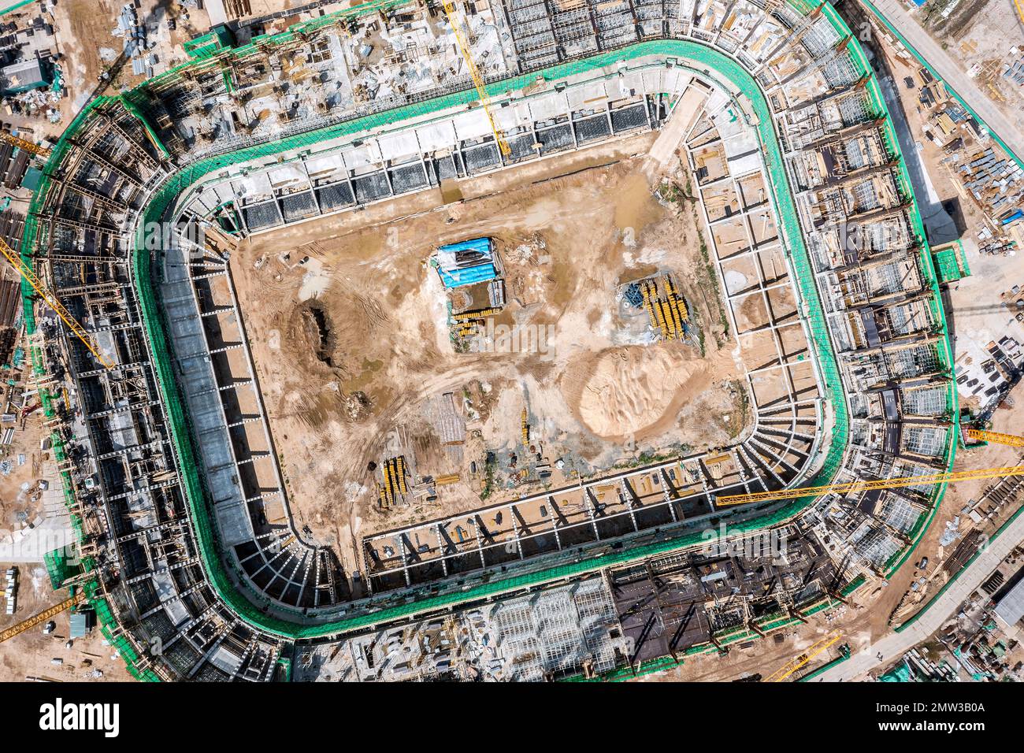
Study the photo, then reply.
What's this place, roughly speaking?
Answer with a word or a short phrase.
sports ground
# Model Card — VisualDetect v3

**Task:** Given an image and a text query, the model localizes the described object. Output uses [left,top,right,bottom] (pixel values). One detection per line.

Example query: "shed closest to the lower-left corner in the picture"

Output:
[68,612,92,639]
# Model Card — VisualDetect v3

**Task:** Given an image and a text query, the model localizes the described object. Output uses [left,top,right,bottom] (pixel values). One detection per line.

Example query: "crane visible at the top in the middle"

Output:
[442,0,510,156]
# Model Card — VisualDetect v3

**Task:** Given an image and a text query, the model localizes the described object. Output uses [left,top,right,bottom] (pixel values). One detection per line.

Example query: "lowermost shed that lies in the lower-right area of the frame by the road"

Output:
[986,568,1024,626]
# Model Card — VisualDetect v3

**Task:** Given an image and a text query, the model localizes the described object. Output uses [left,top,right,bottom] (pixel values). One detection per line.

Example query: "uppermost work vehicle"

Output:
[1001,336,1024,356]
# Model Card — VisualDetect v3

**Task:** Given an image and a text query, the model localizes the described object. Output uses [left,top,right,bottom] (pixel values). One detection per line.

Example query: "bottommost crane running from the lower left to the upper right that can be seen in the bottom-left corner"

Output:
[0,584,94,655]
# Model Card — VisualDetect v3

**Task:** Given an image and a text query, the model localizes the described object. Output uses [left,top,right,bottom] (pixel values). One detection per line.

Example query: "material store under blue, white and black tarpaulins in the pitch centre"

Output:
[439,239,505,288]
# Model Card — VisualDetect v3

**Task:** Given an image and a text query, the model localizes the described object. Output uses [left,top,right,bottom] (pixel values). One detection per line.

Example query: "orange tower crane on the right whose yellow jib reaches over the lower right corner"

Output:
[713,421,1024,506]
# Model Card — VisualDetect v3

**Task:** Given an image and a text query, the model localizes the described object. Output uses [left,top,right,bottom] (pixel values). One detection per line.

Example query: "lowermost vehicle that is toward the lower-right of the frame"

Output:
[918,555,930,572]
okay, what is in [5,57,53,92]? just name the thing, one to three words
shed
